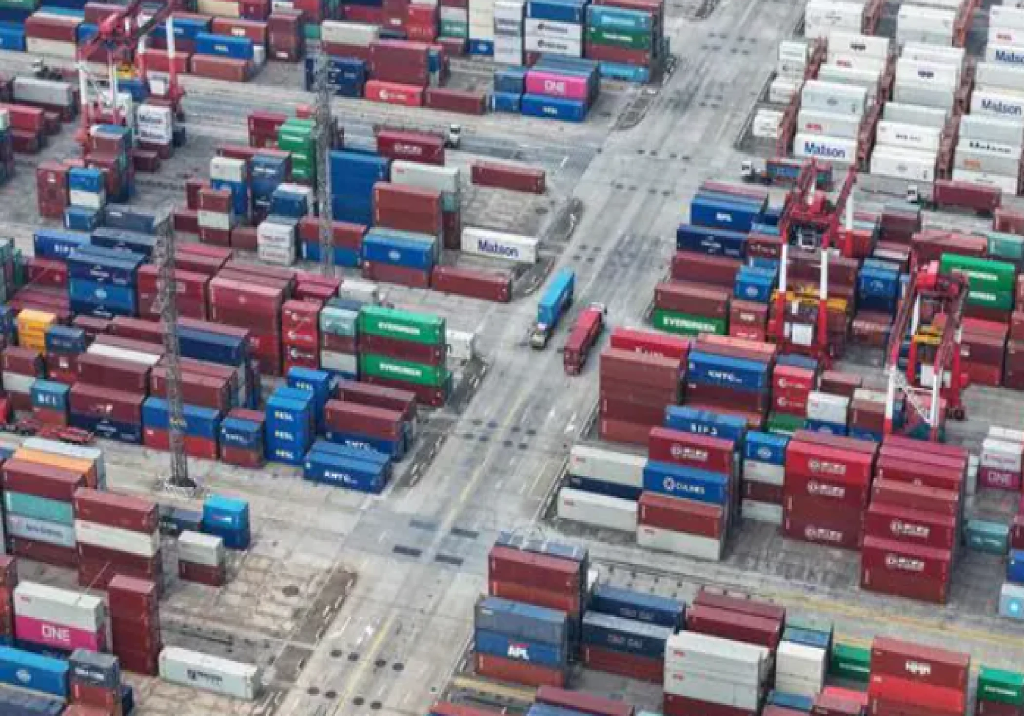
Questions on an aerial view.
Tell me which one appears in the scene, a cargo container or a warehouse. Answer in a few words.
cargo container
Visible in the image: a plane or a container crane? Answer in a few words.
container crane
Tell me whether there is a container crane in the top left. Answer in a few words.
Yes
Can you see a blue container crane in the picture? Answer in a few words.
No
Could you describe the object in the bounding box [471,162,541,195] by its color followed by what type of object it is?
red shipping container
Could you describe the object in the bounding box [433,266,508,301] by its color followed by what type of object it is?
red shipping container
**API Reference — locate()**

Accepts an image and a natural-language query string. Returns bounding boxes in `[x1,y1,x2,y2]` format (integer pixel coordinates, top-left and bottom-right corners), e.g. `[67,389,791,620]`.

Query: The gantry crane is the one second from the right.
[772,153,871,374]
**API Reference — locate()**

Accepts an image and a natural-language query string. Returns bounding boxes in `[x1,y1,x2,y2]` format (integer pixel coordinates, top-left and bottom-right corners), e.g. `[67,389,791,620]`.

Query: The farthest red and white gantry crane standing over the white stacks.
[64,0,184,149]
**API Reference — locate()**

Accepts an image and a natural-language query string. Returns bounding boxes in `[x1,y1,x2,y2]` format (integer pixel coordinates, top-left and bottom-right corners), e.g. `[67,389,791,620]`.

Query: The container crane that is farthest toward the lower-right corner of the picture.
[880,272,982,449]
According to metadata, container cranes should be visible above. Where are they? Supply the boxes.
[772,153,871,374]
[880,272,982,449]
[64,0,184,149]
